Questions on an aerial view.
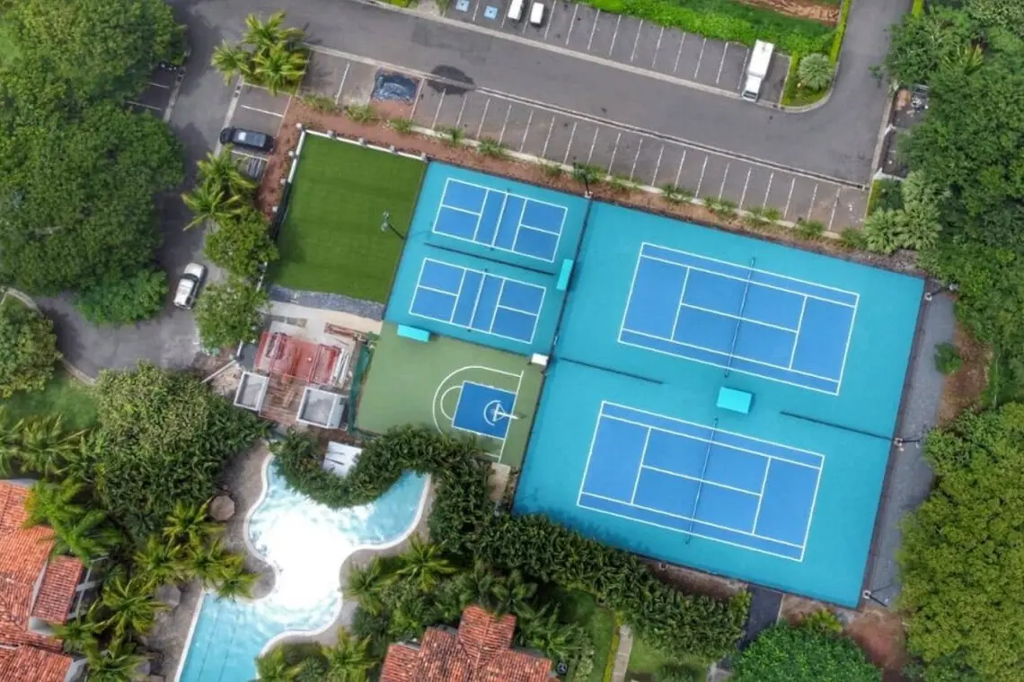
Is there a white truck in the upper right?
Yes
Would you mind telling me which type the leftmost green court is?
basketball court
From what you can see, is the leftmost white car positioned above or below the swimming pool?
above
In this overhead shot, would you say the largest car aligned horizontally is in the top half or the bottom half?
top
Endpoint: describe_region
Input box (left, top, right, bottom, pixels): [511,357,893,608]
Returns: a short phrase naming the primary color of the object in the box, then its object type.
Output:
blue tennis court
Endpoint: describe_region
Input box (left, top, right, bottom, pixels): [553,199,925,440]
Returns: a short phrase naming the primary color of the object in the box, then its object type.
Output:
blue tennis court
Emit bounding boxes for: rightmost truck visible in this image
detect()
[742,34,778,100]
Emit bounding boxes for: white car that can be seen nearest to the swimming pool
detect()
[173,263,206,310]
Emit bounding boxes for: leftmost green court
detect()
[356,321,551,470]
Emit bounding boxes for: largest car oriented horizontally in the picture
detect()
[220,125,277,154]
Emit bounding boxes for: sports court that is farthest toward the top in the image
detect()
[406,161,589,276]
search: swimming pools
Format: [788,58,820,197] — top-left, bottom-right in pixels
[173,454,433,682]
